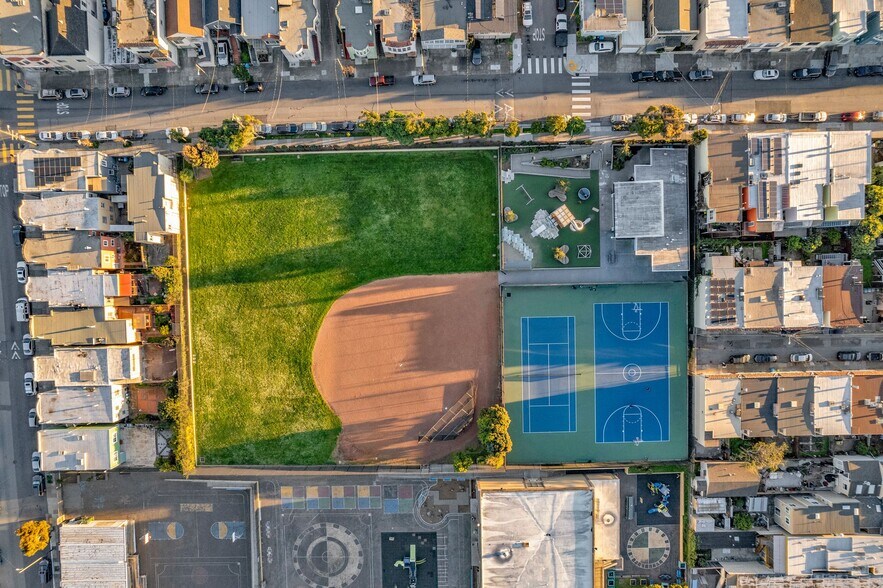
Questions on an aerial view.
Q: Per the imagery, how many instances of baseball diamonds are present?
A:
one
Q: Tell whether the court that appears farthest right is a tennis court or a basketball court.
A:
basketball court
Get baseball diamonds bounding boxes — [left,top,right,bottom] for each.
[187,152,499,464]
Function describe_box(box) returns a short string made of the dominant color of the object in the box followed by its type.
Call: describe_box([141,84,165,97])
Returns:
black vehicle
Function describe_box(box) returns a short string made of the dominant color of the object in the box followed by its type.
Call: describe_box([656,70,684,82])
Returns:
black vehicle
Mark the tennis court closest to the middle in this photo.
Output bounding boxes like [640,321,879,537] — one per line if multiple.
[522,316,577,433]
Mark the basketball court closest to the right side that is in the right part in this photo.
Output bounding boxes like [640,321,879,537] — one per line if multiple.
[594,302,670,443]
